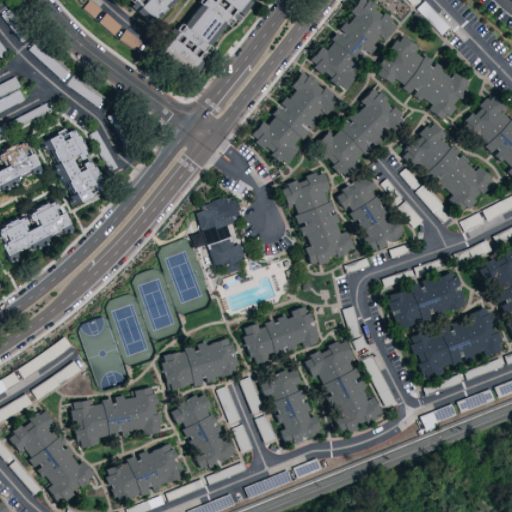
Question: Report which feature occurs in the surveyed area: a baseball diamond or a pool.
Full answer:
The image shows a pool.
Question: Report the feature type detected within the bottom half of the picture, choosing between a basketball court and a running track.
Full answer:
The feature located within the bottom half of the picture is a basketball court.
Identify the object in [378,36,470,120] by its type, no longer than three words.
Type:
building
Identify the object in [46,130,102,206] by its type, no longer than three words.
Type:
building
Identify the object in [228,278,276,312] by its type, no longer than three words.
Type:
swimming pool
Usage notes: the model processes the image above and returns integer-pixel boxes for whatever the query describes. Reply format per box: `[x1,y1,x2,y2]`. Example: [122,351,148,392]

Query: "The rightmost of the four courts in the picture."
[158,240,209,314]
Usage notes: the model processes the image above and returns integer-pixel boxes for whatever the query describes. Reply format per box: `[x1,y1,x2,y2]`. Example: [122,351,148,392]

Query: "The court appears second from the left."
[106,294,153,364]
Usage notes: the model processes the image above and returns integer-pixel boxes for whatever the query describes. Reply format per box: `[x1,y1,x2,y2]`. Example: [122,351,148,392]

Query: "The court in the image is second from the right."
[132,270,182,340]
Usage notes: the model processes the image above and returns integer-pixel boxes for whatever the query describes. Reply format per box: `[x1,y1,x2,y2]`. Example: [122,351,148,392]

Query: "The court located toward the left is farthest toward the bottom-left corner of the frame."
[78,316,126,390]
